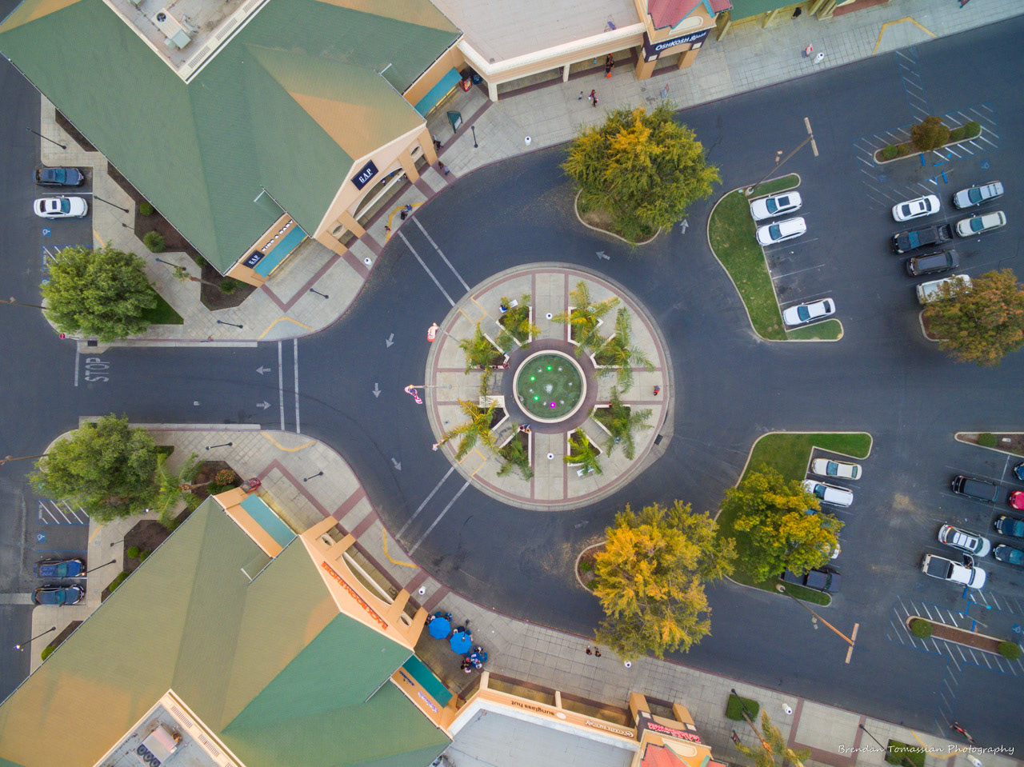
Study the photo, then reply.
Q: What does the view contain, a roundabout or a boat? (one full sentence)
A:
I can see a roundabout in this picture.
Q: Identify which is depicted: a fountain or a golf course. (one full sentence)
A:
Visible in the photo is a fountain.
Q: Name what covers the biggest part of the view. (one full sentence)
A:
The scene is dominated by paved ground.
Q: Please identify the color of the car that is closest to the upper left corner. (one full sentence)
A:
The color of the car that is closest to the upper left corner is blue.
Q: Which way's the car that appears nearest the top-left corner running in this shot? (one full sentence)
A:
I'd say the car that appears nearest the top-left corner is aligned from side to side in the picture.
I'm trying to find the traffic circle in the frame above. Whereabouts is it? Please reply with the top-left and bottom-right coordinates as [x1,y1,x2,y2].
[426,263,674,510]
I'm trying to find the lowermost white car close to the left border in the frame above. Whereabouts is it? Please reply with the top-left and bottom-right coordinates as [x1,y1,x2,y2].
[36,196,92,221]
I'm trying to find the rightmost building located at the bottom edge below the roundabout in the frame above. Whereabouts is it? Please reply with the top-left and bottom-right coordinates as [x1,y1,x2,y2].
[629,694,724,767]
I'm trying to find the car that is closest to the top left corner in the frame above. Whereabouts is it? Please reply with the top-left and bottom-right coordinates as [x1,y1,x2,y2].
[32,164,88,191]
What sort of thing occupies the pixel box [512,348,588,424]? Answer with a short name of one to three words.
fountain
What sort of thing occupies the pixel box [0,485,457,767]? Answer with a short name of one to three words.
building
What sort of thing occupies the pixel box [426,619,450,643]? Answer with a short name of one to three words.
umbrella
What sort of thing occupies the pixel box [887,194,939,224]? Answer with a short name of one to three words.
car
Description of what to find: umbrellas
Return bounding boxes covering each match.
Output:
[426,619,450,643]
[449,633,472,656]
